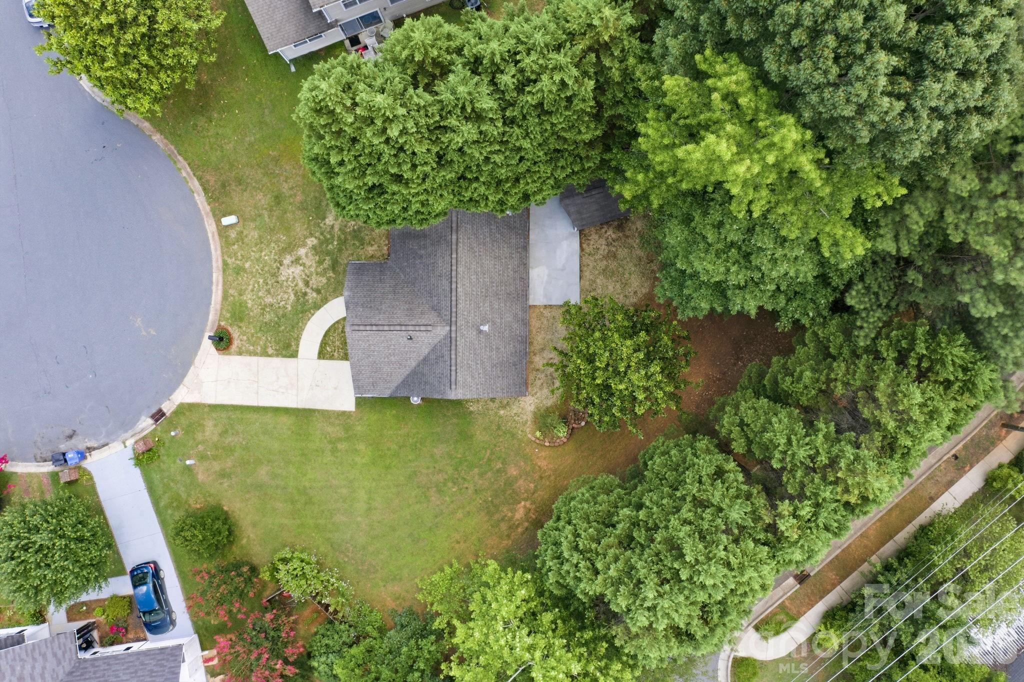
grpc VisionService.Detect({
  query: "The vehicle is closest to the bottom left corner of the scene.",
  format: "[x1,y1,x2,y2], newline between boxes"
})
[129,561,177,637]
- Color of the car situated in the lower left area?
blue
